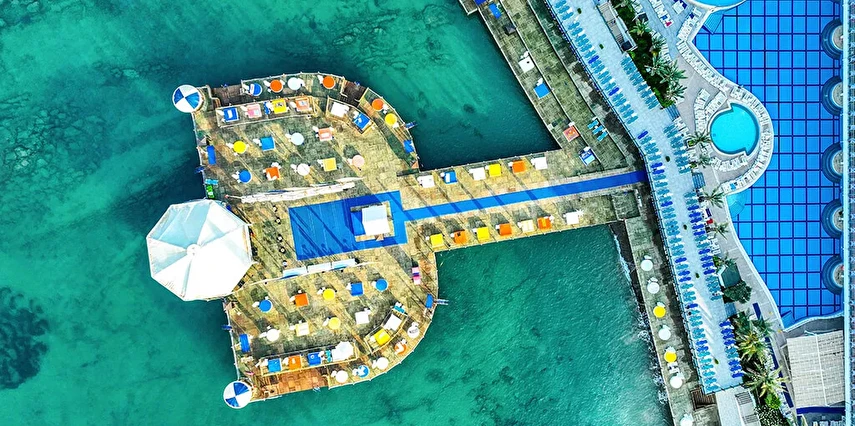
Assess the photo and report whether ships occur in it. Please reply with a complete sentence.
No, there isn't any ship down there.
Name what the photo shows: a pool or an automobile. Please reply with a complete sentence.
The image shows a pool.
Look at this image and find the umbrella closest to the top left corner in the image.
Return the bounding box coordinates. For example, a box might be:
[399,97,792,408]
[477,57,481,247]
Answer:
[172,84,203,114]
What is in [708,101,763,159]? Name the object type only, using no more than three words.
swimming pool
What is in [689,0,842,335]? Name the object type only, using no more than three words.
swimming pool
